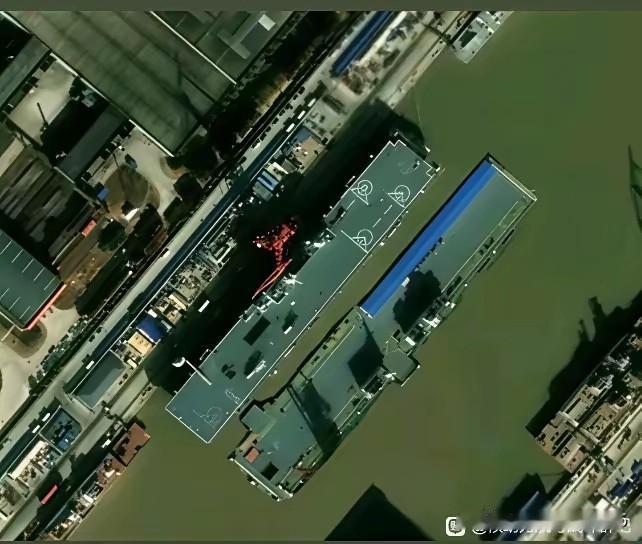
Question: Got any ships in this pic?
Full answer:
Yes, I can see a ship in this picture.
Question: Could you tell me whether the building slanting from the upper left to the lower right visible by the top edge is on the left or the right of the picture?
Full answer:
It is on the left.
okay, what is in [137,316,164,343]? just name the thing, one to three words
shed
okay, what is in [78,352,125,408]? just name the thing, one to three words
shed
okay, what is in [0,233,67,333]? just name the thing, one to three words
building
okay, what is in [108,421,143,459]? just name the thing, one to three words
ship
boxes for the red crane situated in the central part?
[253,224,293,298]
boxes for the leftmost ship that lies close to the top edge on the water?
[451,18,494,65]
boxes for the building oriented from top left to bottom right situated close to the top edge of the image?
[0,0,235,159]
